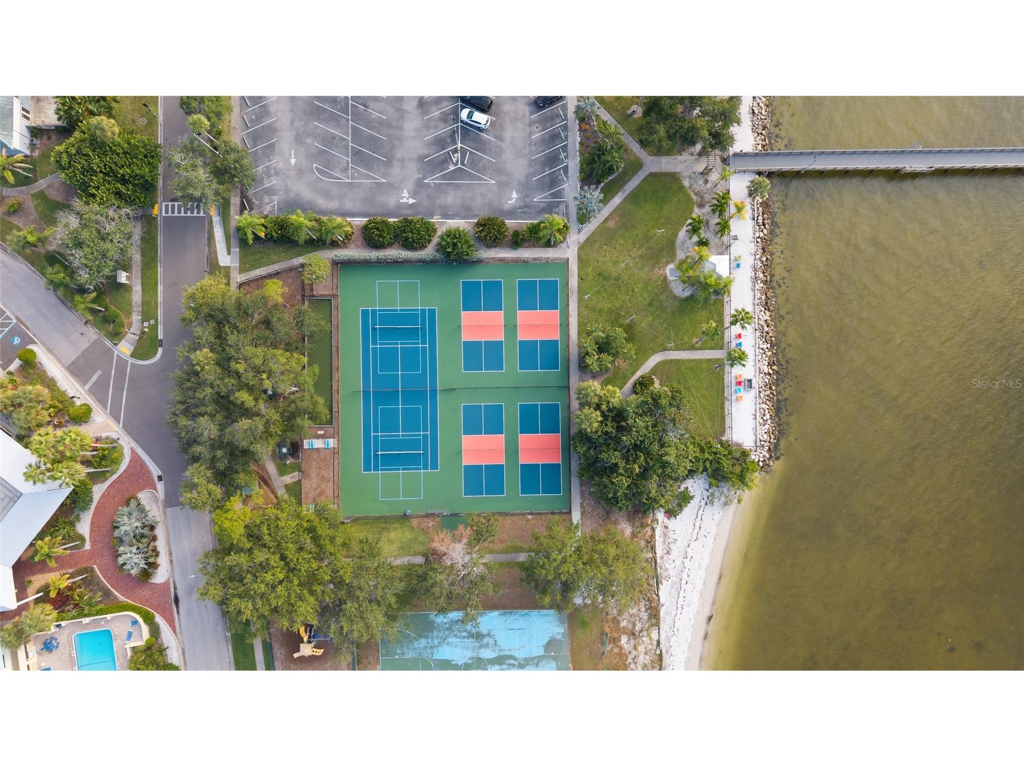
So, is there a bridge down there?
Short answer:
No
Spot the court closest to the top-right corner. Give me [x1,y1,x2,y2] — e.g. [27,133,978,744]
[516,278,563,371]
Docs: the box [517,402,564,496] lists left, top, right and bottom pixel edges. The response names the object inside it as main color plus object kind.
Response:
blue sports court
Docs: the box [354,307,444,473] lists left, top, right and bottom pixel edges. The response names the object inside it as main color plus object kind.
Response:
blue tennis court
